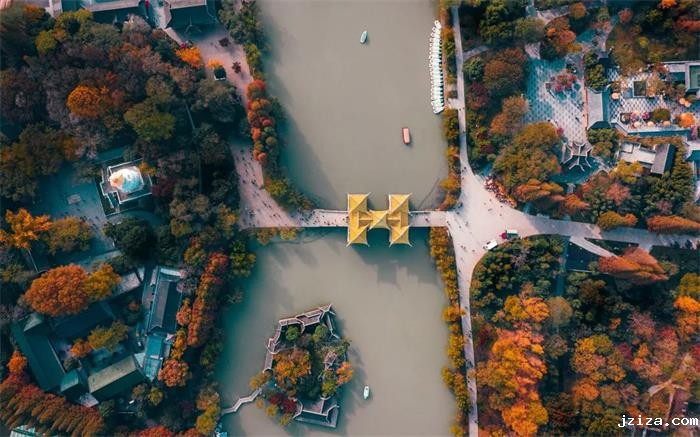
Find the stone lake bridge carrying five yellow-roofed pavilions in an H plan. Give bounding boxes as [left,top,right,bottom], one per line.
[305,192,448,248]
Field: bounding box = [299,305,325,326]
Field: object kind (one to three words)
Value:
building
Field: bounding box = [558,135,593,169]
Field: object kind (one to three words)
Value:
building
